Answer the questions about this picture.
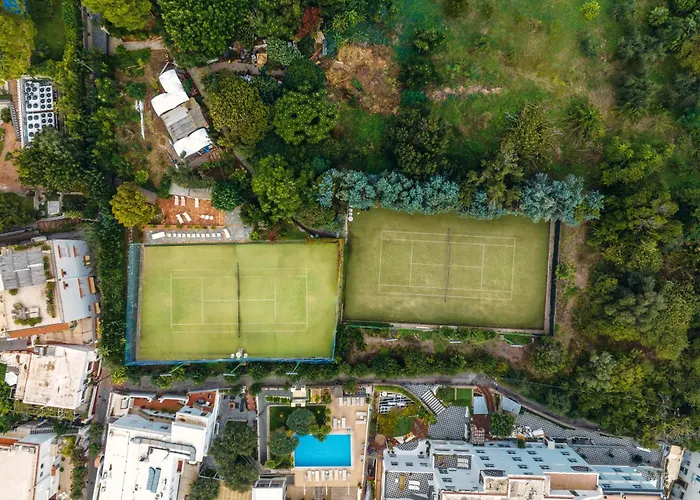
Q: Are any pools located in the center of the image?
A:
No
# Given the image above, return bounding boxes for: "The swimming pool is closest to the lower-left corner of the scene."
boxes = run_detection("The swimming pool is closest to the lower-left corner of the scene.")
[293,430,353,470]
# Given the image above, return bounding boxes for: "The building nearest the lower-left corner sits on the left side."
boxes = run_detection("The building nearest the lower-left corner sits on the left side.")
[0,425,62,500]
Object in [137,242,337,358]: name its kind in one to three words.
tennis court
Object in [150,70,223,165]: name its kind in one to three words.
shed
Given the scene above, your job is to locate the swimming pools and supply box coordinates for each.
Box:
[293,430,353,470]
[0,0,23,14]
